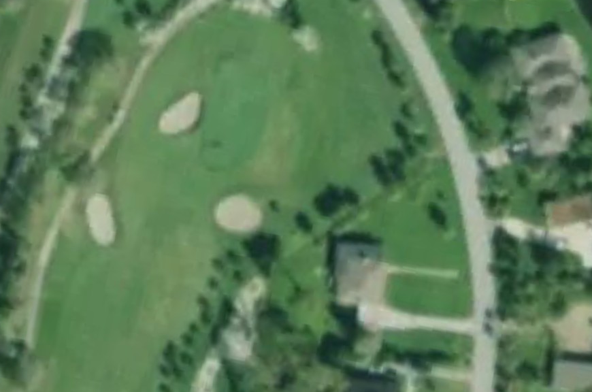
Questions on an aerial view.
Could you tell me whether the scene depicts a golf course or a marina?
golf course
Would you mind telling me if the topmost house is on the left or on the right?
right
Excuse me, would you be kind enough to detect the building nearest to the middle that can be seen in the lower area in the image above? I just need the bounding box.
[335,241,382,306]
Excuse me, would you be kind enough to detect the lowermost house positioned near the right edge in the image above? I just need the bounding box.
[555,360,592,392]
